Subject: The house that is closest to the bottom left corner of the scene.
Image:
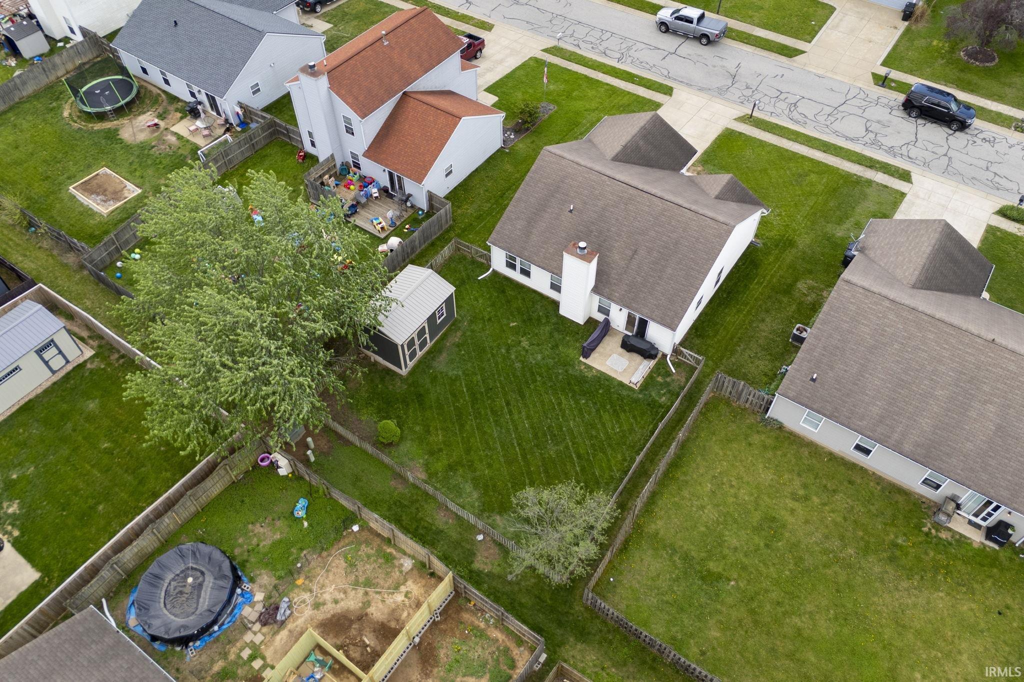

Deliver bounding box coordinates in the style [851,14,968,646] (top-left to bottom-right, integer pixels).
[0,599,183,682]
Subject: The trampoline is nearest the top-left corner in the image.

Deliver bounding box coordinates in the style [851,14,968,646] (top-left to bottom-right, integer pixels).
[65,53,140,124]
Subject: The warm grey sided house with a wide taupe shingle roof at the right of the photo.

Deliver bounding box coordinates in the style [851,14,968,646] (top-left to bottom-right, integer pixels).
[770,218,1024,552]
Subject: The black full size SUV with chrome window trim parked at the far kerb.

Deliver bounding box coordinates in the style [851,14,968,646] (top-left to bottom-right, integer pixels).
[899,83,980,133]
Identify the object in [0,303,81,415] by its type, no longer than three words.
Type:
shed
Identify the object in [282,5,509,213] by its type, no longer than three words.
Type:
house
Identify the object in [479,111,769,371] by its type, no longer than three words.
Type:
house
